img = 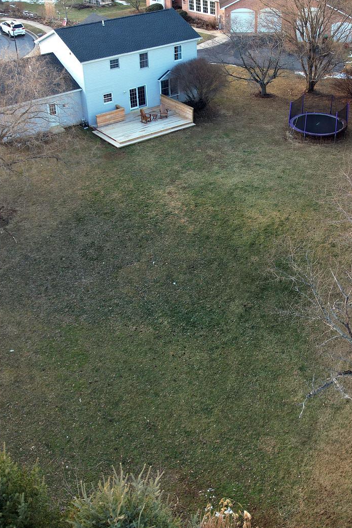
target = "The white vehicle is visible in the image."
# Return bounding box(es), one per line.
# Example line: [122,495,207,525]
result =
[0,20,29,39]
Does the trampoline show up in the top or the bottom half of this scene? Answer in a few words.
top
